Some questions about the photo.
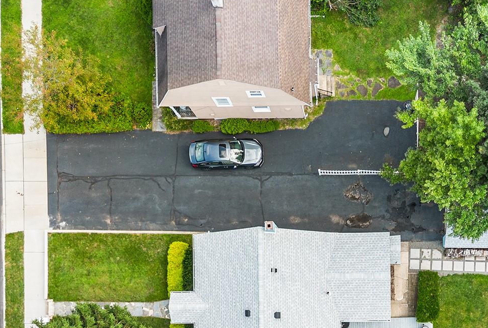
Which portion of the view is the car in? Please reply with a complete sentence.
The car is in the center part of the image.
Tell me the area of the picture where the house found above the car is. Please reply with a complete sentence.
The house found above the car is located in the top region of the scene.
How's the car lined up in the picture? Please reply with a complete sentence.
The car has been laid out from left to right relative to the frame.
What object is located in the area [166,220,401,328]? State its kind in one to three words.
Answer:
house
